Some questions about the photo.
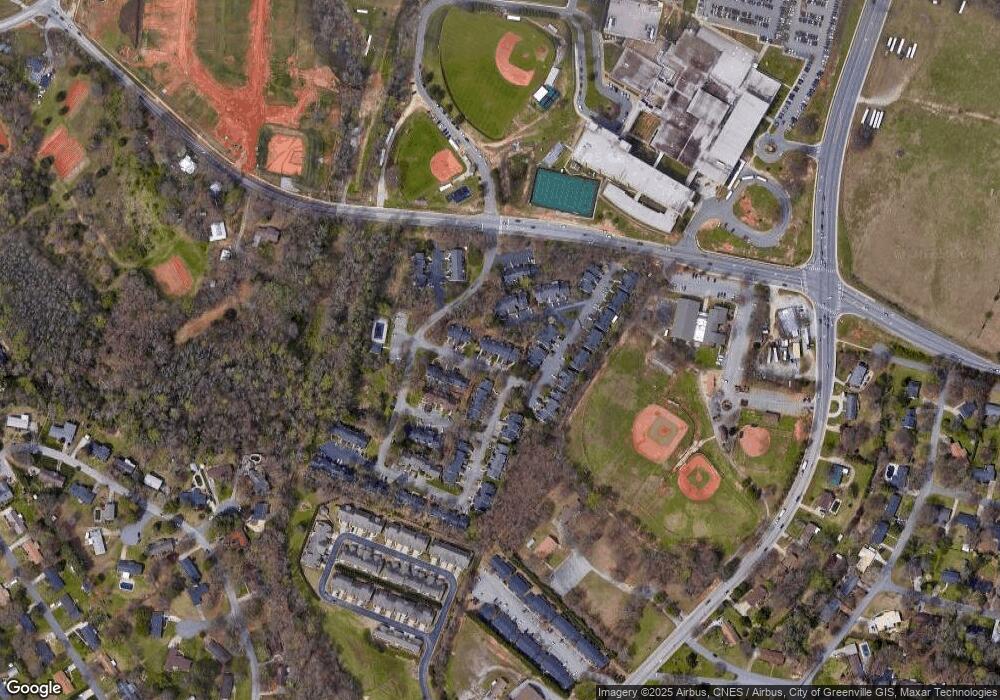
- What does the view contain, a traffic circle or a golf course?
traffic circle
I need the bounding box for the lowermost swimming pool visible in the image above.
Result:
[858,640,872,660]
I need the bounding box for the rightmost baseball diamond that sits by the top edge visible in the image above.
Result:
[438,7,558,138]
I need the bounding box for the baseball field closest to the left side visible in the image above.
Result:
[390,103,468,201]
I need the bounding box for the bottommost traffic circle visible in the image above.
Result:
[728,175,792,248]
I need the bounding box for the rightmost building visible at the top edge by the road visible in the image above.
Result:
[573,26,781,233]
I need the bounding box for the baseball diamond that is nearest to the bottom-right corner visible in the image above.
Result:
[678,454,721,501]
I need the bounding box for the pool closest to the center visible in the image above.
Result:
[372,318,388,344]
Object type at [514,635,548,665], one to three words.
building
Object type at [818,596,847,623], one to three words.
house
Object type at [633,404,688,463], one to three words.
baseball field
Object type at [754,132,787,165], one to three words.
roundabout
